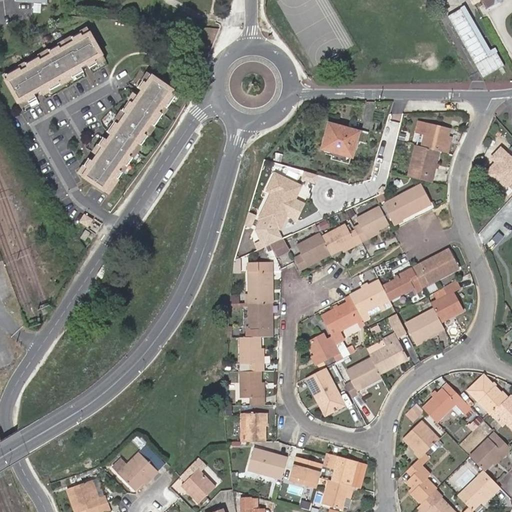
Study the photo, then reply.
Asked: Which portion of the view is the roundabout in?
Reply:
top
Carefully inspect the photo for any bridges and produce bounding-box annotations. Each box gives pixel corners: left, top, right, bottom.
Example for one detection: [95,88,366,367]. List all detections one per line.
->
[0,428,32,472]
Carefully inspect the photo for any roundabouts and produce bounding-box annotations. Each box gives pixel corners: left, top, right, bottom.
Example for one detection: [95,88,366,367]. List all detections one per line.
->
[224,56,283,114]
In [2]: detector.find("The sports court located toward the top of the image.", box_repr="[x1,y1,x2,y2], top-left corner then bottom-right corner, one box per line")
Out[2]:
[277,0,344,66]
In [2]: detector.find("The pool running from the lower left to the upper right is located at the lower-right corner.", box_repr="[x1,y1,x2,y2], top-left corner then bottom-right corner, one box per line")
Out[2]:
[455,470,475,489]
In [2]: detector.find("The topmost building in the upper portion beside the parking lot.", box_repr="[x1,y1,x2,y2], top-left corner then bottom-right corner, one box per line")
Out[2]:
[3,24,104,104]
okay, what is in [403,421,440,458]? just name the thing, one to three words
house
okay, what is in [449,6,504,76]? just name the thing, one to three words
shed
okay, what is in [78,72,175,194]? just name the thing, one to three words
building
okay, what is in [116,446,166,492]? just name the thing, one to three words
house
